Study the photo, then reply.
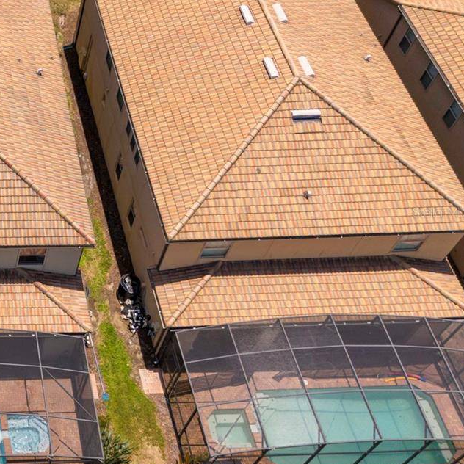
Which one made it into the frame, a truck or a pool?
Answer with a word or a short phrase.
pool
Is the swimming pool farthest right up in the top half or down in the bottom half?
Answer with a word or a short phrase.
bottom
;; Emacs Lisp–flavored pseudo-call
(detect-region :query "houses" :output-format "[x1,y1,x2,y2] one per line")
[59,0,464,348]
[0,0,98,354]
